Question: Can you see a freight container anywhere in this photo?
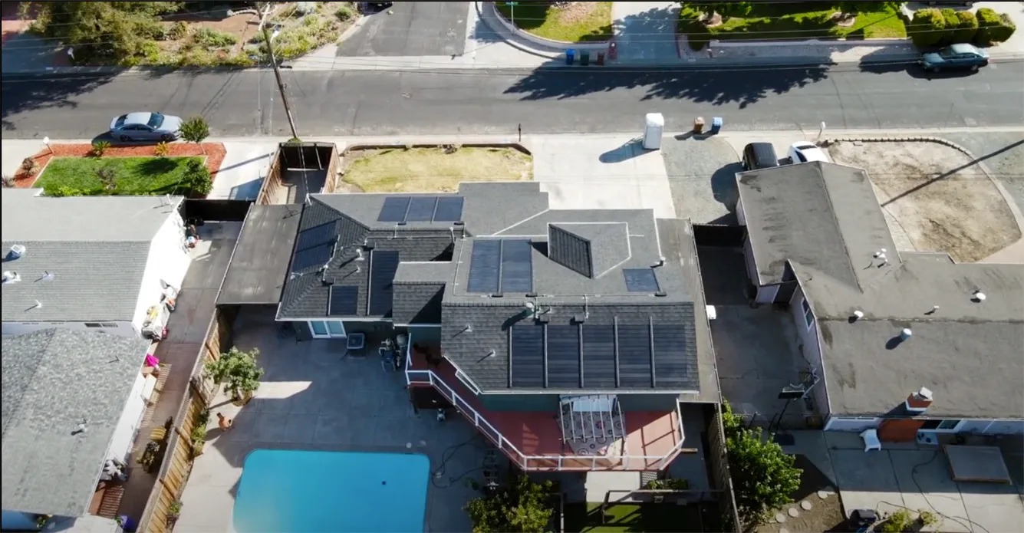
No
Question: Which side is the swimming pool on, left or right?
left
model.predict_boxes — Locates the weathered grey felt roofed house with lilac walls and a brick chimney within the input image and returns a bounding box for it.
[735,159,1024,446]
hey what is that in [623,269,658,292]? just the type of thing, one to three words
solar panel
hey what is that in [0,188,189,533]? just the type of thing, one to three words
house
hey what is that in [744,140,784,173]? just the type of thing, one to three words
vehicle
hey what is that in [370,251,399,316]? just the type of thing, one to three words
solar panel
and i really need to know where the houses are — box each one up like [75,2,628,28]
[272,181,701,410]
[735,159,1024,446]
[0,188,189,533]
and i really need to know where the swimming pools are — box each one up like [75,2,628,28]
[220,449,433,533]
